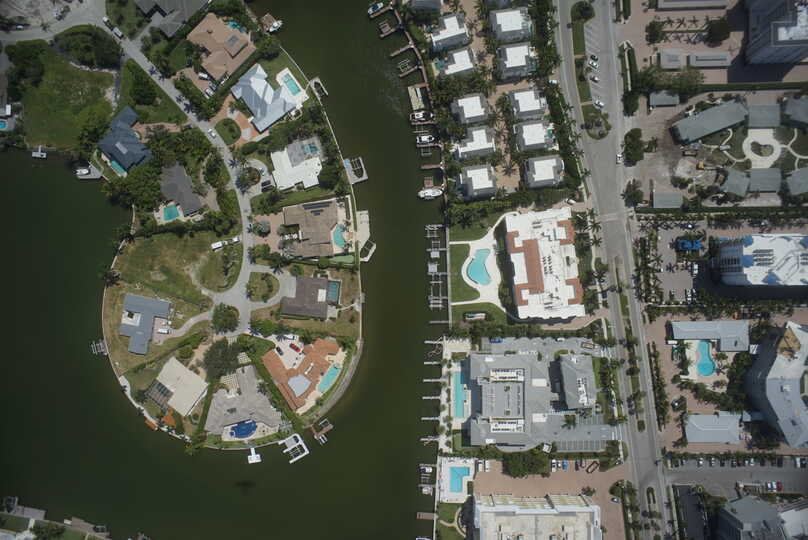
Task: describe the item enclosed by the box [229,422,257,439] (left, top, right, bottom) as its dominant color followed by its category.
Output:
blue swimming pool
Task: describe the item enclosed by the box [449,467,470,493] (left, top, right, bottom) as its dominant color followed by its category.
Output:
blue swimming pool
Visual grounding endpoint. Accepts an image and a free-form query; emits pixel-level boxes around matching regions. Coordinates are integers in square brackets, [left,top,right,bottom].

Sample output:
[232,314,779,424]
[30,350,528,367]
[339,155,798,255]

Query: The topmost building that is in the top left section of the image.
[135,0,209,37]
